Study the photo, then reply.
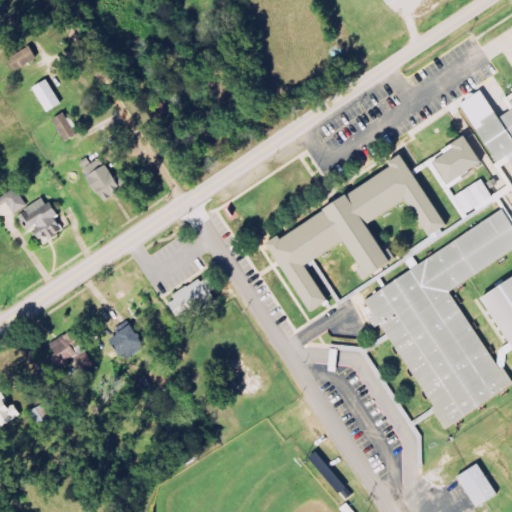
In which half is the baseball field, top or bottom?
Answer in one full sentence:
The baseball field is in the bottom half of the image.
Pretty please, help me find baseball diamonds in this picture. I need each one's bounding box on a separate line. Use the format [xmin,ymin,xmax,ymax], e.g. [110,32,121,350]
[154,418,341,512]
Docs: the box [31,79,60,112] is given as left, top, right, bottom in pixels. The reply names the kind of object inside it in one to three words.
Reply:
barn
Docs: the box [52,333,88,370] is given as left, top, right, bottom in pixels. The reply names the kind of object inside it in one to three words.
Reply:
house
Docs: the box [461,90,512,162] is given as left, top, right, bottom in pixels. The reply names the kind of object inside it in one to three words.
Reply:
building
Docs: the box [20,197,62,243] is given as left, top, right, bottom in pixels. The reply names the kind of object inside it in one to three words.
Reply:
house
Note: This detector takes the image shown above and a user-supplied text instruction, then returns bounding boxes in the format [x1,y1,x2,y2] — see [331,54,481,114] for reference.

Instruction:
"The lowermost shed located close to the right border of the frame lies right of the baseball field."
[457,464,497,508]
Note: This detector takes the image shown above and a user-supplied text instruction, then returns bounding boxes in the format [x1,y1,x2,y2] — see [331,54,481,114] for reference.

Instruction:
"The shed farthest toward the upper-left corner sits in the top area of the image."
[8,46,34,69]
